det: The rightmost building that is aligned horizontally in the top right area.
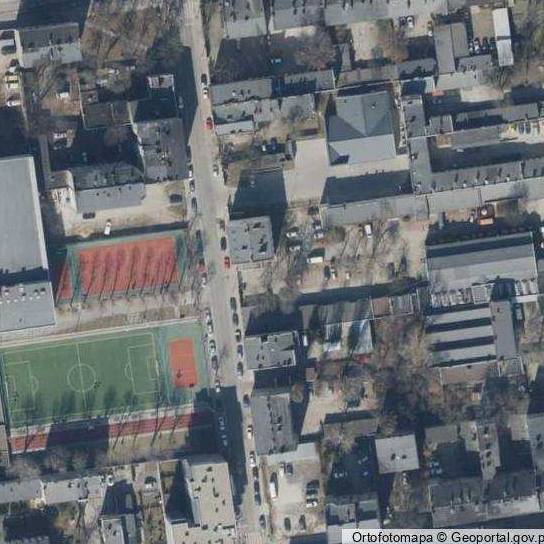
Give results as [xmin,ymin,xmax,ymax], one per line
[502,102,539,122]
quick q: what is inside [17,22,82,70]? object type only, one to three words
building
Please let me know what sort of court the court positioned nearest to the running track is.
basketball court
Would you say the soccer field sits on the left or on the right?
left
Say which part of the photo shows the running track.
bottom left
